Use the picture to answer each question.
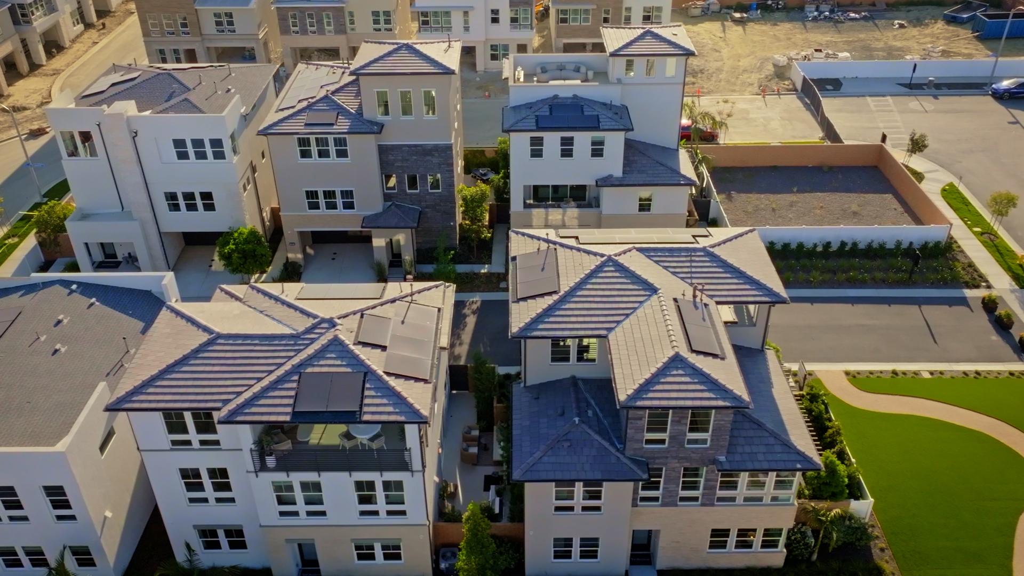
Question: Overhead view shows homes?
Yes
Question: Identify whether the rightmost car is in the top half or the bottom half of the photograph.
top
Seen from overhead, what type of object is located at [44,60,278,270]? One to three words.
house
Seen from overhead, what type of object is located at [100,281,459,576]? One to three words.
house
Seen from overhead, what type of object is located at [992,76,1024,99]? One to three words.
car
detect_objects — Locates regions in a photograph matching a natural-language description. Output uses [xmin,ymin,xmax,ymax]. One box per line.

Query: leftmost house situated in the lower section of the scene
[0,272,180,576]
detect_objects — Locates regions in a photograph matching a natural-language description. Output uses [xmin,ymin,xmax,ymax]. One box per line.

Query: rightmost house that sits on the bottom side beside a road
[507,226,828,576]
